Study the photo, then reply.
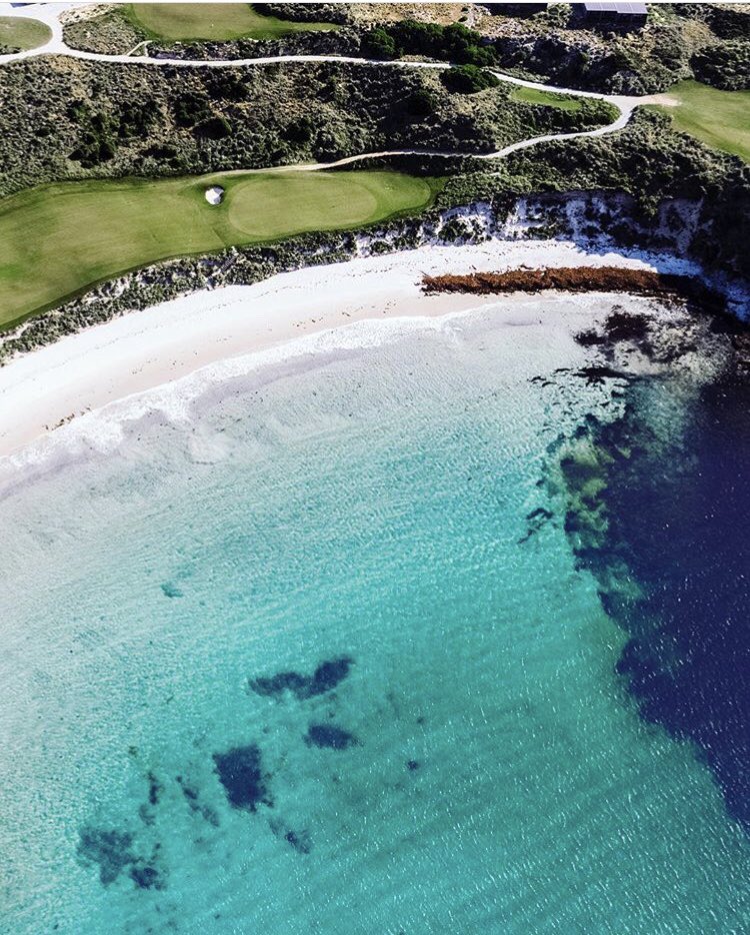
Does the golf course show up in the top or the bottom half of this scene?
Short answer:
top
